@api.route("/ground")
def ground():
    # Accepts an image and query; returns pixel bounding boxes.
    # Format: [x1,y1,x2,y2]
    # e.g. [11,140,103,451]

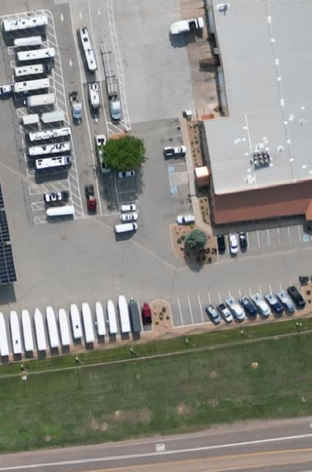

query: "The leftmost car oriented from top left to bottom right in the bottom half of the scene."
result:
[202,303,221,325]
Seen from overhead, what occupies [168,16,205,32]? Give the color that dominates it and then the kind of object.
white vehicle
